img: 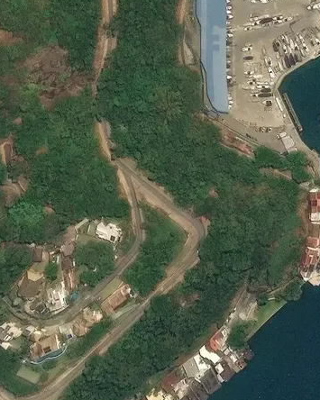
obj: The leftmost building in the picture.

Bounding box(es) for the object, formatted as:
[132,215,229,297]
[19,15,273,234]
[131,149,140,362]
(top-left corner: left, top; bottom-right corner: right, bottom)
[0,320,24,343]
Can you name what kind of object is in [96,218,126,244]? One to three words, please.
house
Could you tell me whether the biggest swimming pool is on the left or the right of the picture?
left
